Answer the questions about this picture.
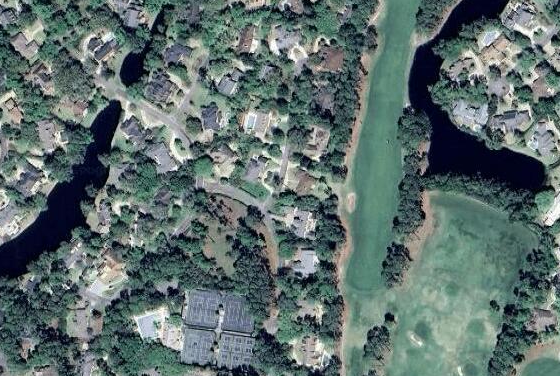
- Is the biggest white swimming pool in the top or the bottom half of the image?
bottom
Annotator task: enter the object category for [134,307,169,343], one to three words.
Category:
swimming pool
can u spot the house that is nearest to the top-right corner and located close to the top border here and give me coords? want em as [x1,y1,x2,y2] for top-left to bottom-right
[507,4,539,35]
